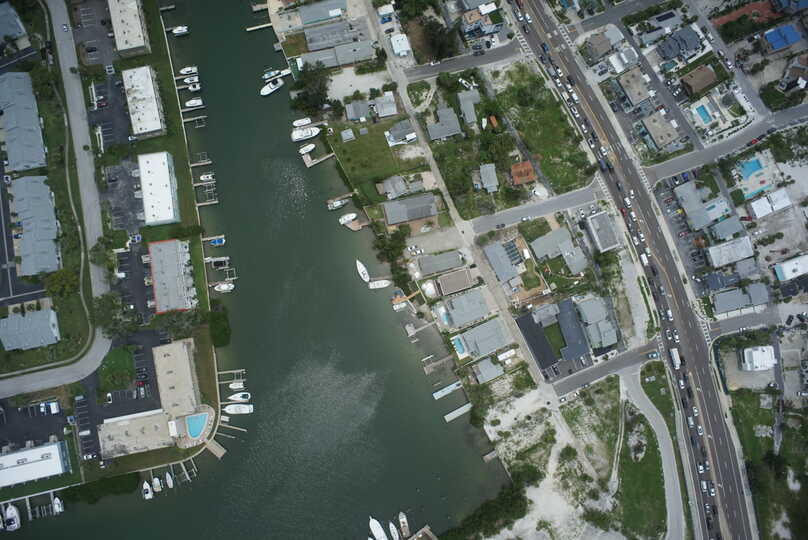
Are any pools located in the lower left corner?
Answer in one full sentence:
Yes, you'll find a pool in the lower left corner.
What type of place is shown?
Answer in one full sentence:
This looks like a residential area.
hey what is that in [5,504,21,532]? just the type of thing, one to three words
boat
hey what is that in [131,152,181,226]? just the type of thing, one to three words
building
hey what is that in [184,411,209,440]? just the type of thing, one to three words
swimming pool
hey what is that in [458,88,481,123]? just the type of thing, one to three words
house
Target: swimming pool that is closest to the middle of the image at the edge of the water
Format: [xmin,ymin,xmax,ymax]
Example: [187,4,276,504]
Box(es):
[436,304,453,329]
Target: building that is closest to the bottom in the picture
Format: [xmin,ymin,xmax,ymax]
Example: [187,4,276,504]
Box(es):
[0,432,74,487]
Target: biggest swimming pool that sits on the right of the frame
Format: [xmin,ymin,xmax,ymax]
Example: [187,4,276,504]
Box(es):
[735,150,782,200]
